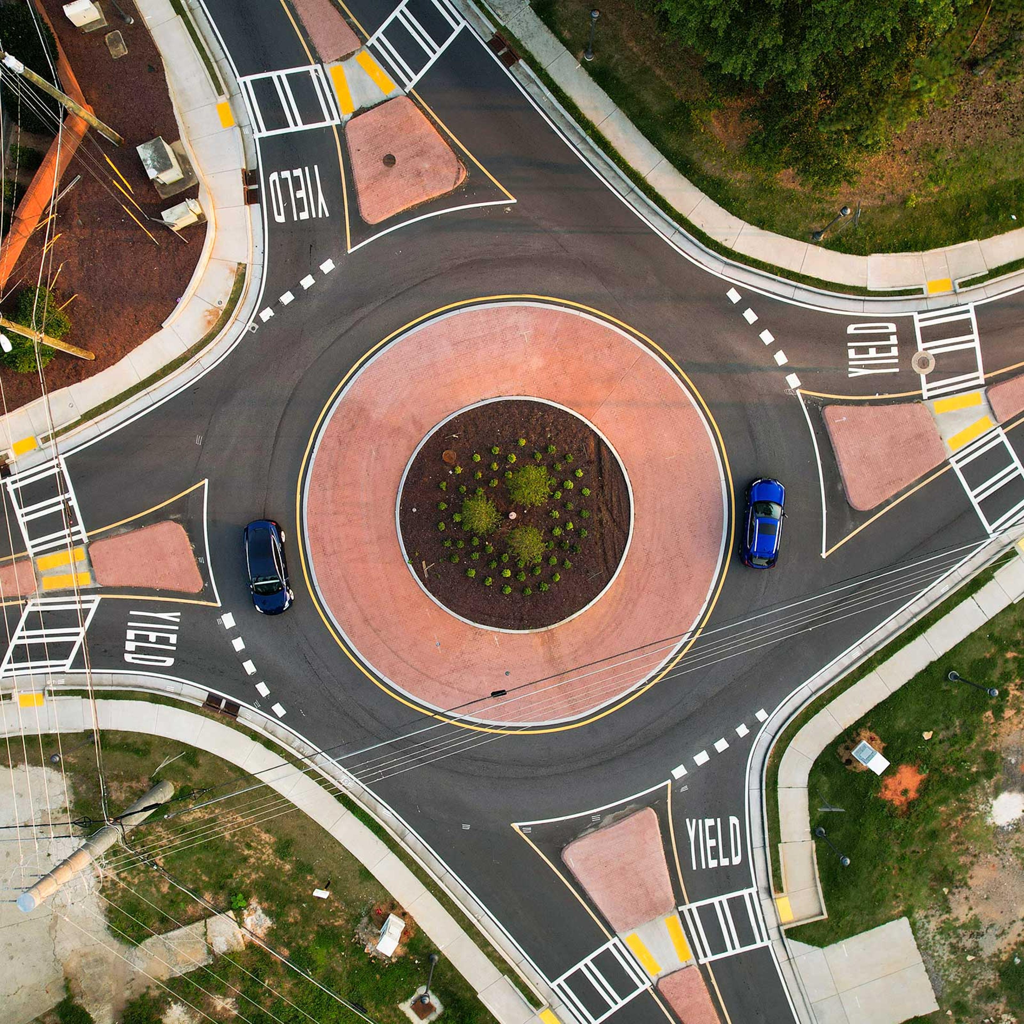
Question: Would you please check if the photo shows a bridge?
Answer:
No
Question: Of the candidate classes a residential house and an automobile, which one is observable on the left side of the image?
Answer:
automobile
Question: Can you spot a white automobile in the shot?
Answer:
No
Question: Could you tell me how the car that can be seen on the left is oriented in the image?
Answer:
vertically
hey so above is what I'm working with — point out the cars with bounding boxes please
[739,478,790,569]
[244,520,293,615]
